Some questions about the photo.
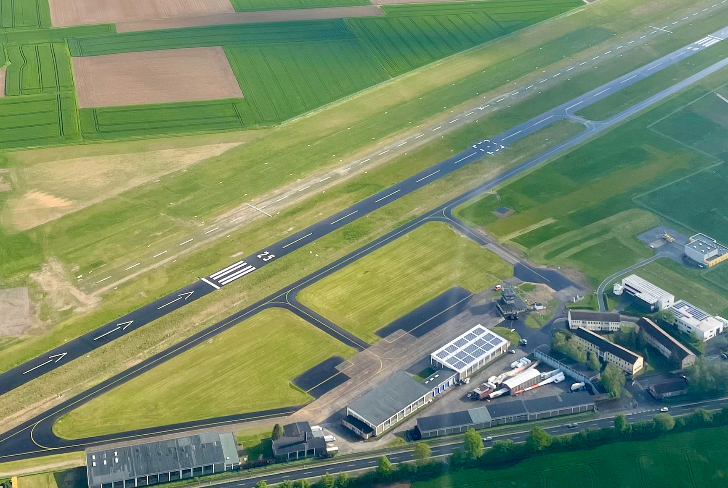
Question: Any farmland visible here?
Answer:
Yes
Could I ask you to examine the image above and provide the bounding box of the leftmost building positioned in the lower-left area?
[86,431,238,488]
